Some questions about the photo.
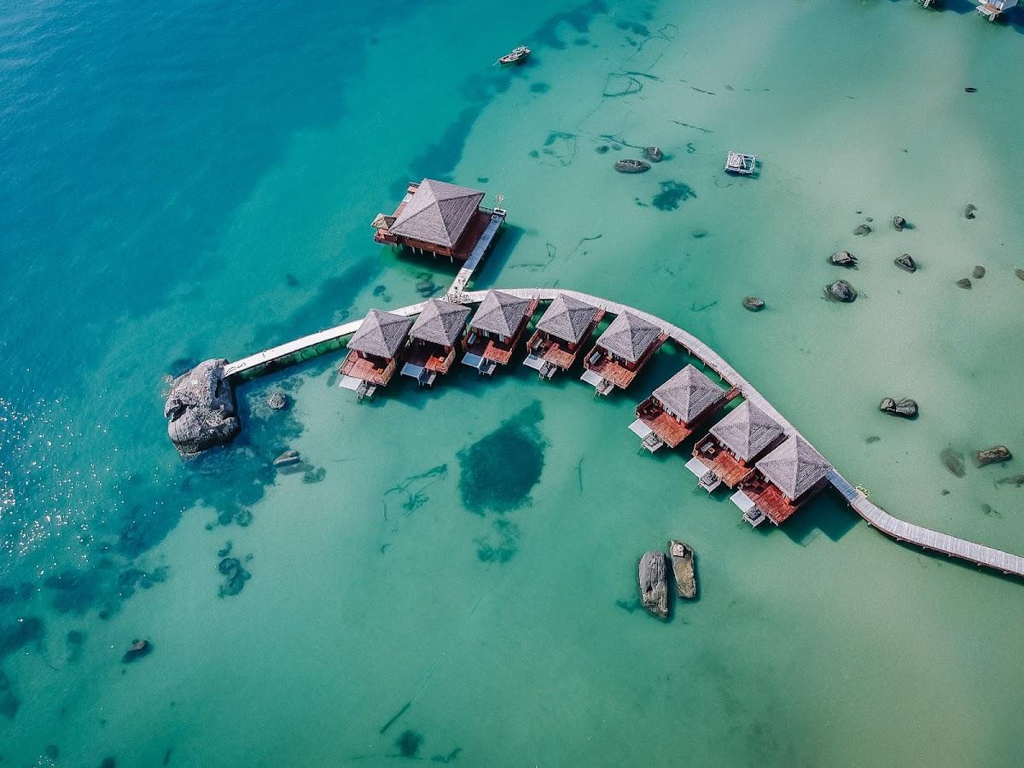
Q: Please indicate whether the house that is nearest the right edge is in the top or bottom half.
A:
top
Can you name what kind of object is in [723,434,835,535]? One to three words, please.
house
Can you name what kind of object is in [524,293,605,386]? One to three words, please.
house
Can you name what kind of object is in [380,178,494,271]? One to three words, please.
building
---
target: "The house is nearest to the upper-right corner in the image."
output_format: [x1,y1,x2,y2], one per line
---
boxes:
[966,0,1007,29]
